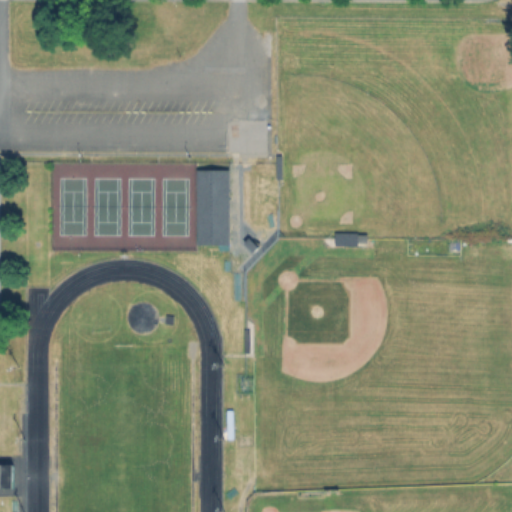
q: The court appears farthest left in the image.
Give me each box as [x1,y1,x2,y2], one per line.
[58,178,90,236]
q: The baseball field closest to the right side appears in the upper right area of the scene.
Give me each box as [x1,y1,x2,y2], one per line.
[456,34,512,89]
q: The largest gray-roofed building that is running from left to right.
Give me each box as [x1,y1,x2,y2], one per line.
[335,234,368,247]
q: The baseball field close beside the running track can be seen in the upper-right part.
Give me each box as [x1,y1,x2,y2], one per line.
[279,20,512,237]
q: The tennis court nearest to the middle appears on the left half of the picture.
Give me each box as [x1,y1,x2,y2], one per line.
[160,178,192,236]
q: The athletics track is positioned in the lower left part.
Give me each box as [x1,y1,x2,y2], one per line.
[28,260,222,512]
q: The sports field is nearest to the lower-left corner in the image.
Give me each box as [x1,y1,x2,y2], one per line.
[48,280,202,512]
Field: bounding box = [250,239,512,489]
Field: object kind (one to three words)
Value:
baseball field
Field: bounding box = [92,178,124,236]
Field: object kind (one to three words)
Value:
tennis court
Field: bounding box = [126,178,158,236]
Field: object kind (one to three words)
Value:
tennis court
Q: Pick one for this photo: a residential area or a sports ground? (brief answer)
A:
sports ground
